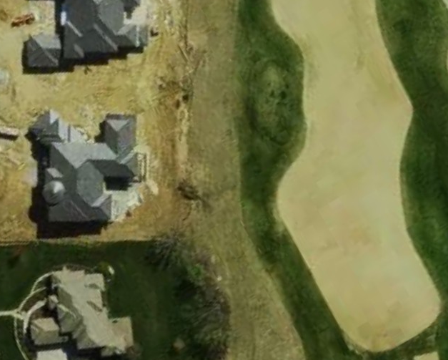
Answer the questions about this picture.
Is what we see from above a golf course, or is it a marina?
golf course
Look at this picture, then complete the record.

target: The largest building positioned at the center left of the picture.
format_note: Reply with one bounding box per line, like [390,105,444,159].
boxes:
[27,108,137,224]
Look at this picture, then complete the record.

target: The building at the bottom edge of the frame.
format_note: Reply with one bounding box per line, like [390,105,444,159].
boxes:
[28,271,134,357]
